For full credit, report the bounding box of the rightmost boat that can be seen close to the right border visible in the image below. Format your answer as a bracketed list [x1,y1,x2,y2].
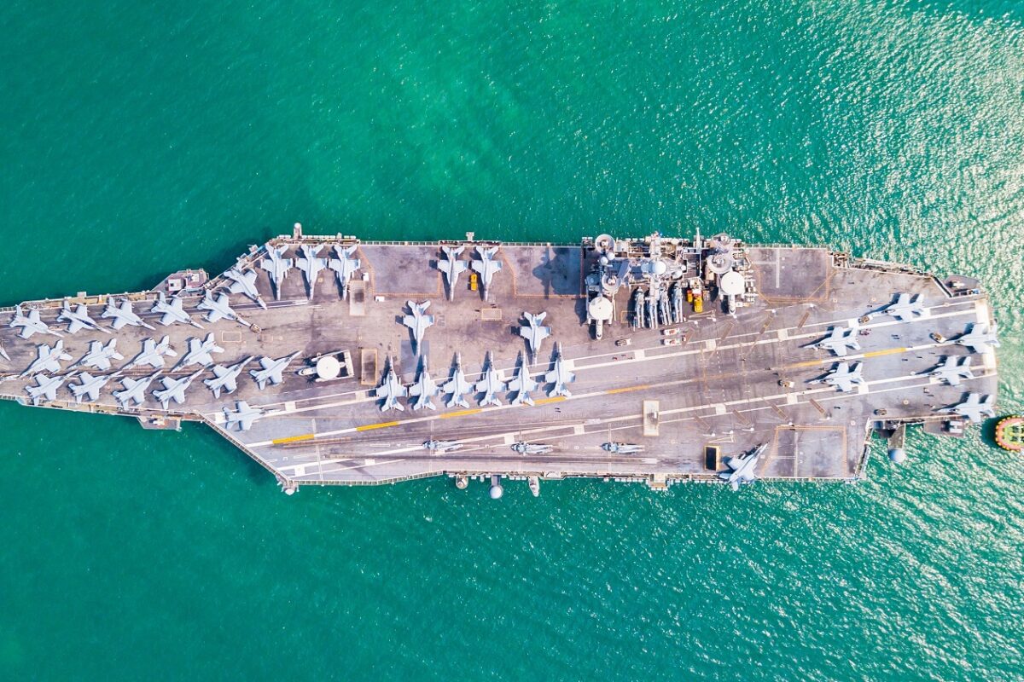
[989,415,1024,453]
